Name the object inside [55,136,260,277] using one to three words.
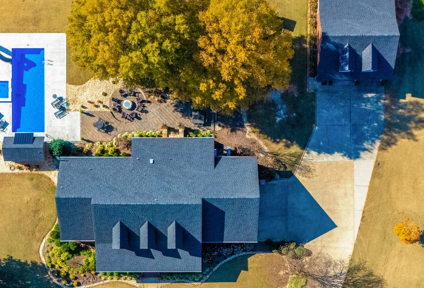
house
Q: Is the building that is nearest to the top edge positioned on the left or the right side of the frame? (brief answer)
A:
right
